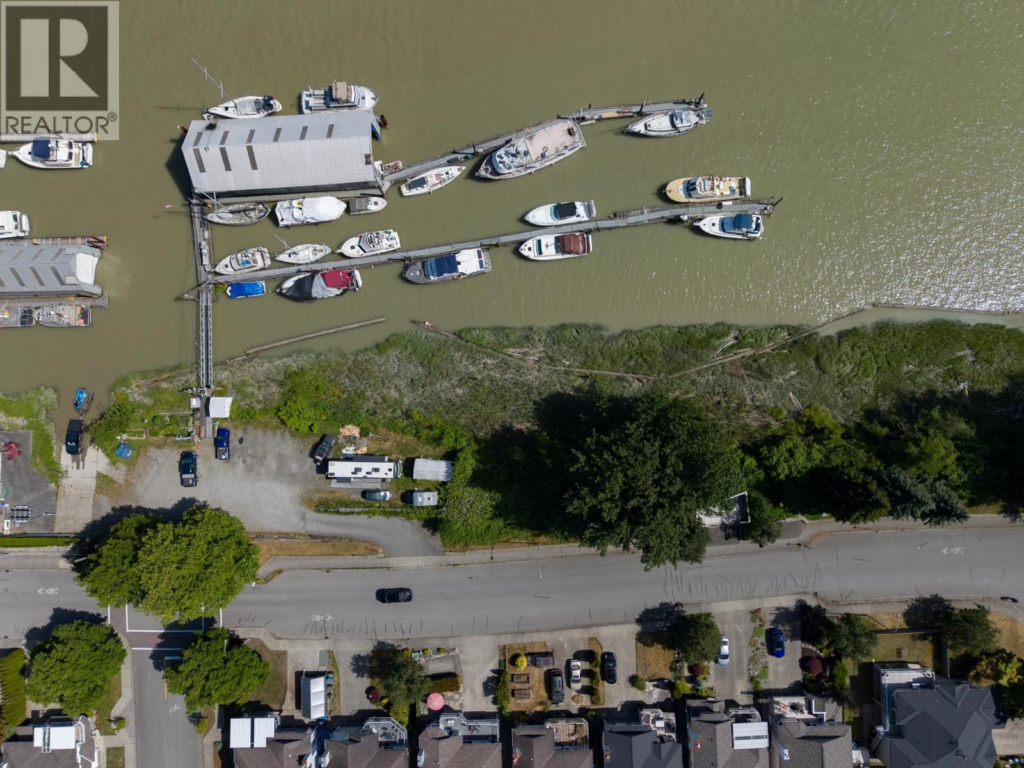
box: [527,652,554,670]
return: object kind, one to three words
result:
car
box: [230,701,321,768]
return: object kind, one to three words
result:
house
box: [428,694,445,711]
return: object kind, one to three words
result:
umbrella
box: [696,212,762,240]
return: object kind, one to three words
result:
boat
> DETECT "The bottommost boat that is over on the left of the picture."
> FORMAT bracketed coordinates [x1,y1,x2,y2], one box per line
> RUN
[74,388,86,410]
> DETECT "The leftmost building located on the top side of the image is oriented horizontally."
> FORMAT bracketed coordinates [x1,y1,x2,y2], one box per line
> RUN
[0,245,111,298]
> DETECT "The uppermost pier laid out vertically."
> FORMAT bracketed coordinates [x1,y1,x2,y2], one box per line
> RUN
[192,200,215,286]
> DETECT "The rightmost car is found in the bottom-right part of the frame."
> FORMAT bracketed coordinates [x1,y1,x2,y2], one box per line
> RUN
[769,629,786,657]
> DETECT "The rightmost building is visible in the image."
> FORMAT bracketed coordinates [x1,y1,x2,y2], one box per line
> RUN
[864,660,1001,768]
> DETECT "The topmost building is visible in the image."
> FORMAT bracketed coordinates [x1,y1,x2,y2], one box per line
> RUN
[181,111,384,199]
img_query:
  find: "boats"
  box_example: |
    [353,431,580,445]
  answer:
[625,105,715,137]
[274,263,365,299]
[519,234,593,262]
[276,200,347,229]
[227,281,267,300]
[337,228,403,257]
[210,247,275,273]
[402,248,494,285]
[0,303,40,327]
[524,202,597,226]
[696,212,762,240]
[187,63,285,119]
[0,212,33,239]
[6,138,96,169]
[74,388,86,410]
[477,116,586,177]
[31,304,97,327]
[271,241,333,266]
[349,198,387,214]
[194,196,273,224]
[301,81,380,114]
[661,172,750,202]
[401,166,466,198]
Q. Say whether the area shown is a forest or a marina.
marina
